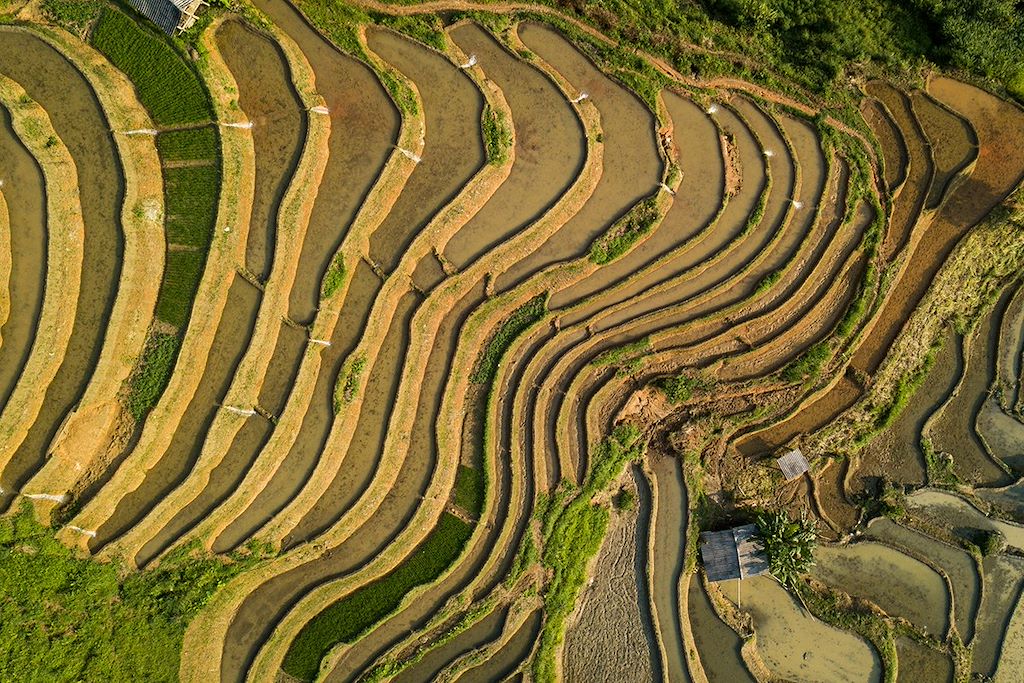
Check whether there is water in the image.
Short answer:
Yes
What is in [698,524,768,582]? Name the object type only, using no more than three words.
shed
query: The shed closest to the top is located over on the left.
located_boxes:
[130,0,219,44]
